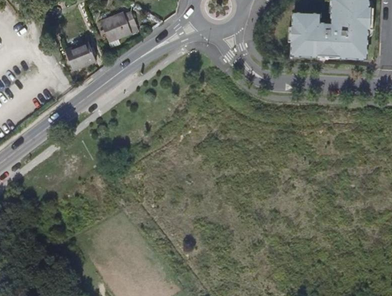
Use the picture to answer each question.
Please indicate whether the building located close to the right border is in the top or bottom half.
top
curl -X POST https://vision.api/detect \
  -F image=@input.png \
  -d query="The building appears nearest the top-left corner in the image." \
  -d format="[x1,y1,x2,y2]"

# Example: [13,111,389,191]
[70,44,98,72]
